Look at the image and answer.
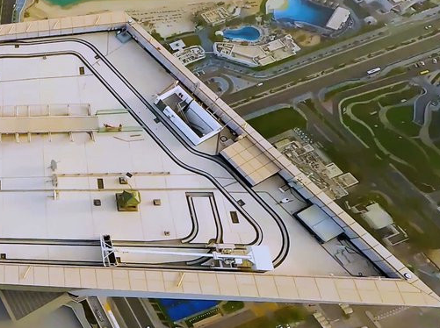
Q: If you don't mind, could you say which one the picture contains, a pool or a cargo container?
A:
pool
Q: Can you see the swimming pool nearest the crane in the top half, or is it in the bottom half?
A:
bottom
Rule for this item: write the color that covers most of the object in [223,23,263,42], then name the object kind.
blue swimming pool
